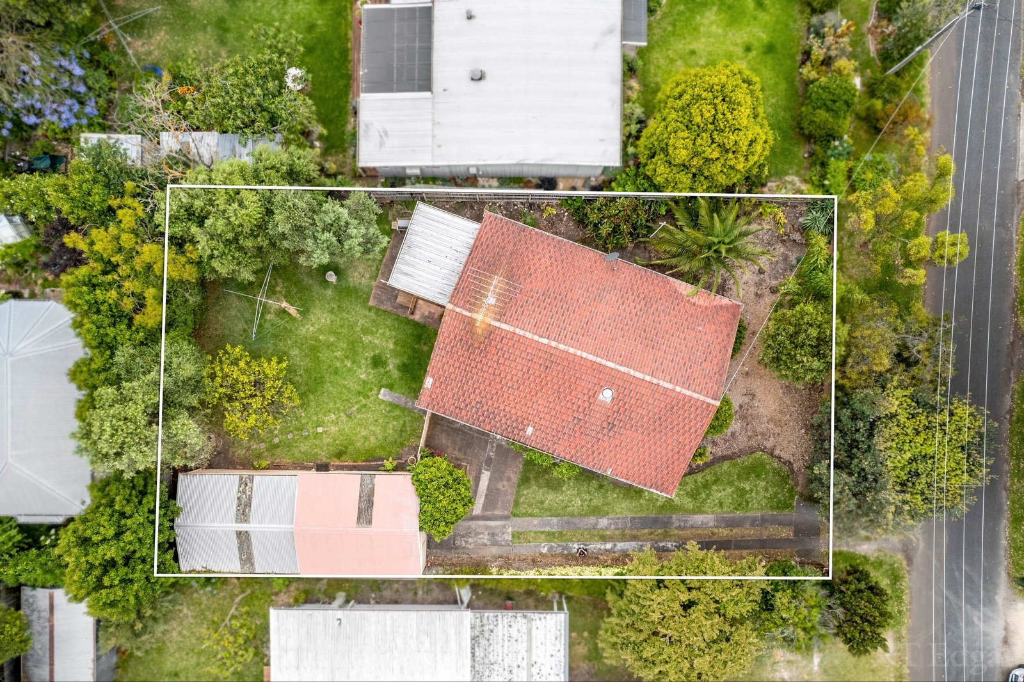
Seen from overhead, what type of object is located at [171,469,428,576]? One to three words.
building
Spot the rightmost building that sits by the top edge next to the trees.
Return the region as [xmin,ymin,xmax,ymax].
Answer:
[355,0,625,181]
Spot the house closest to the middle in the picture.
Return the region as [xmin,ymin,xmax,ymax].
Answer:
[415,209,744,499]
